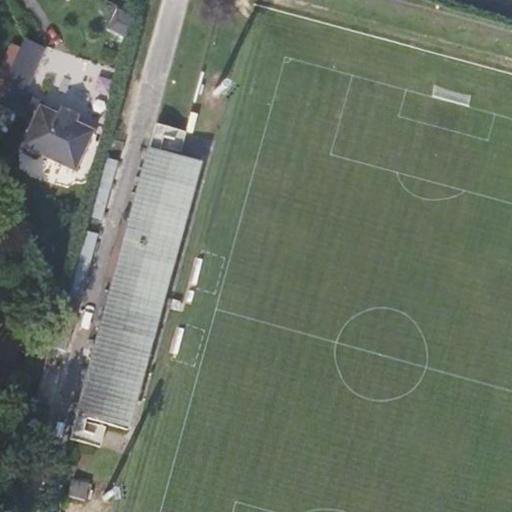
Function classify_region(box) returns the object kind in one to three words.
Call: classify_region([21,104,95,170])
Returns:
house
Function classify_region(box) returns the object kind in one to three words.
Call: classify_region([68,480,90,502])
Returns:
shed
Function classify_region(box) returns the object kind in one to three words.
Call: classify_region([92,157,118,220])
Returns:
shed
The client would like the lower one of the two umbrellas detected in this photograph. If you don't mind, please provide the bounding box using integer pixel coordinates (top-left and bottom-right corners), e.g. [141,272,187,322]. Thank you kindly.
[92,98,106,112]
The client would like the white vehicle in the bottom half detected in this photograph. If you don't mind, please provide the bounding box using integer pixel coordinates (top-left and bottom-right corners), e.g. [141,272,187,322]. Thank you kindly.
[80,304,94,332]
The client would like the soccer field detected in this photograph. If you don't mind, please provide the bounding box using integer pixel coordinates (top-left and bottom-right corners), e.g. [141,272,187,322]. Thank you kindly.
[134,10,512,512]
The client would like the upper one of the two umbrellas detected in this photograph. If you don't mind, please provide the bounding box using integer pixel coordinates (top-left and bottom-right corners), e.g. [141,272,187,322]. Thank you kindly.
[98,76,112,90]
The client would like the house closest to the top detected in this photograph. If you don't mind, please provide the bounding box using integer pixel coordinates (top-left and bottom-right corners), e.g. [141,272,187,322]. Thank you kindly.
[101,4,133,42]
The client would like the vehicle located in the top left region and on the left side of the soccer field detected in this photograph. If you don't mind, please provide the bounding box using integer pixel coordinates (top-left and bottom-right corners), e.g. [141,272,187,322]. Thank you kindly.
[46,26,61,47]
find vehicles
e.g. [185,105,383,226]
[80,304,94,332]
[55,422,64,438]
[46,26,61,47]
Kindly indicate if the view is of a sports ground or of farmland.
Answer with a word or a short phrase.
sports ground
